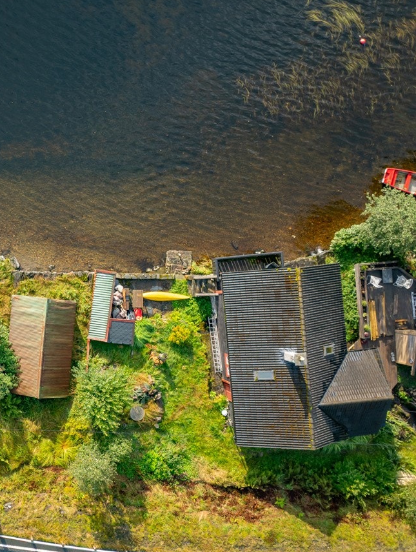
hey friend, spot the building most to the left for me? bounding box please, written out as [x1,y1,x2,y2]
[11,296,76,398]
